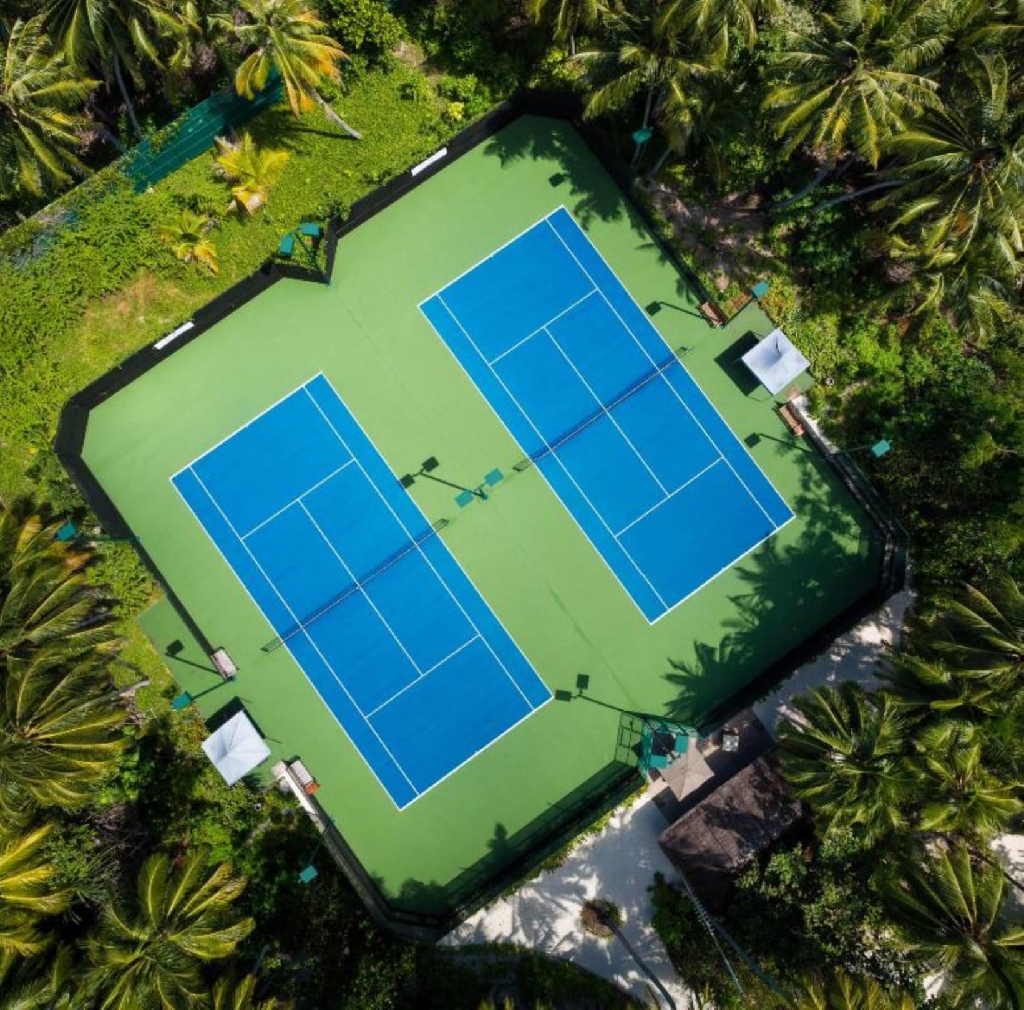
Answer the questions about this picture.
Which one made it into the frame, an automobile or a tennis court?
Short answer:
tennis court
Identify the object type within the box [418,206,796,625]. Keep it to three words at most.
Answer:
tennis court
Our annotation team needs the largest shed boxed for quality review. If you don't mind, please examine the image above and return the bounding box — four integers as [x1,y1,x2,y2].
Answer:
[655,750,812,896]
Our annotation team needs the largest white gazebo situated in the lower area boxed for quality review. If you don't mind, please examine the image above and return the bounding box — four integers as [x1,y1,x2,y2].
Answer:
[204,706,284,784]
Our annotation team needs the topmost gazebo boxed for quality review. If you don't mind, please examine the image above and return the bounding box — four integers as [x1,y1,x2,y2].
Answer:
[730,331,808,404]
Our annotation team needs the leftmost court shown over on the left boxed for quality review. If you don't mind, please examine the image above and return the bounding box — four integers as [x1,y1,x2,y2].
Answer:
[170,373,553,810]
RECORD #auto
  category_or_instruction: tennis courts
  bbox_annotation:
[418,206,796,625]
[170,373,553,810]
